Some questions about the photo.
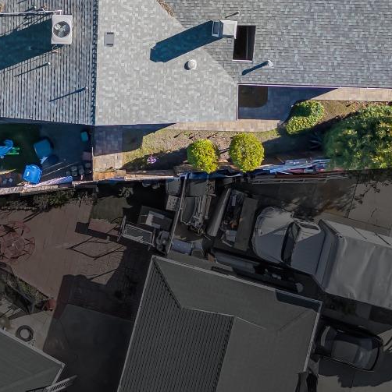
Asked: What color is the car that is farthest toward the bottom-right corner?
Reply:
black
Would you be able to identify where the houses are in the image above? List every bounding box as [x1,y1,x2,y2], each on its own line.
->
[0,0,392,125]
[0,314,67,392]
[117,250,325,392]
